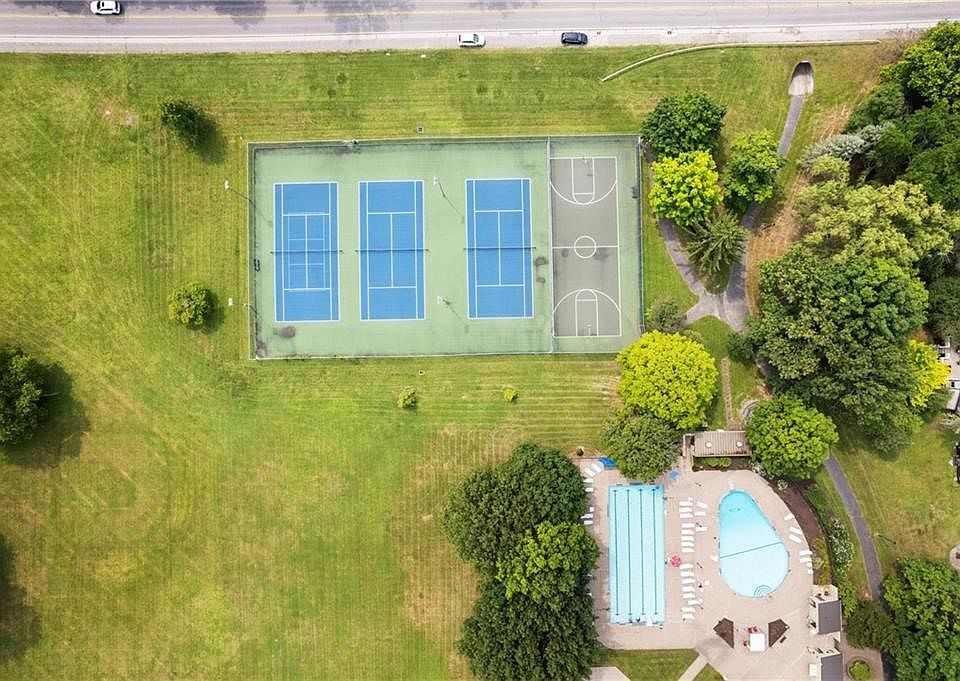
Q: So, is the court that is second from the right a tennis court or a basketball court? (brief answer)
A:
tennis court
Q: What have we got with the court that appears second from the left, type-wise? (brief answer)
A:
tennis court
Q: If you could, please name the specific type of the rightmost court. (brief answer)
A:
basketball court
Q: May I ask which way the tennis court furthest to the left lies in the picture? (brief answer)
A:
vertically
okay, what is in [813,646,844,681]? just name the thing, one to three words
building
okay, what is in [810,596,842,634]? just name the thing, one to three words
building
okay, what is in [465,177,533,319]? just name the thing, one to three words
tennis court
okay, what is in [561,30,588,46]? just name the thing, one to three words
car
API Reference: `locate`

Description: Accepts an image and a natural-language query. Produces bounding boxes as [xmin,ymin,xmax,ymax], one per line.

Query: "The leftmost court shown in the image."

[273,181,340,323]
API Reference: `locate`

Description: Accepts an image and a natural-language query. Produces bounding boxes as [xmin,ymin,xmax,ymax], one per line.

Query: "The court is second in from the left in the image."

[358,180,426,321]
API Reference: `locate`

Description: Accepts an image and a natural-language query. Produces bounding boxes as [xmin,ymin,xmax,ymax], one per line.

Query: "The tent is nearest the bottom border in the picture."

[742,627,765,652]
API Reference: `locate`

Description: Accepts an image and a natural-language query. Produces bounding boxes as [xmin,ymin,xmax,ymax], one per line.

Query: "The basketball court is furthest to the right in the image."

[549,157,620,338]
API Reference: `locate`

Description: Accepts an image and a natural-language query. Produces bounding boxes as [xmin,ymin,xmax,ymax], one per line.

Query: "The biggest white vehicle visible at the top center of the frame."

[458,32,485,47]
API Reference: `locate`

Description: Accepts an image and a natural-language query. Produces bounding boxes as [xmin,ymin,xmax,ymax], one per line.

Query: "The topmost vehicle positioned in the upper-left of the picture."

[91,1,120,16]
